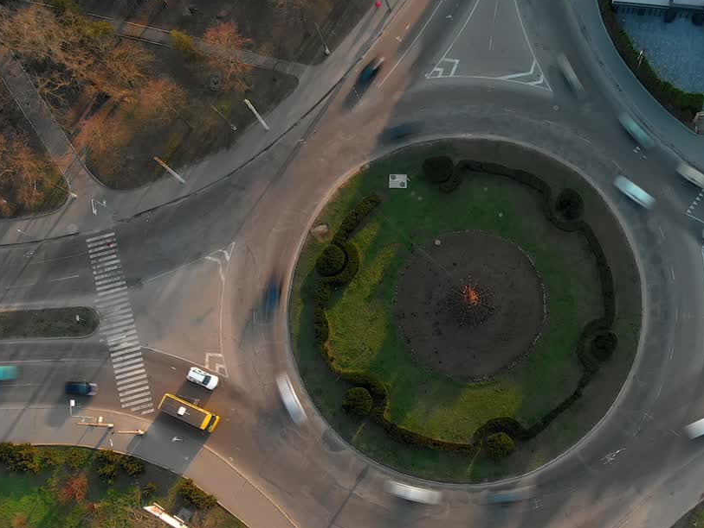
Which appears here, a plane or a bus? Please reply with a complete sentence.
The image shows a bus.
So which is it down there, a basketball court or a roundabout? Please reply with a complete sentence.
The image shows a roundabout.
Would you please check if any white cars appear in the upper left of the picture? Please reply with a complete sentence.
No, no white car can be made out in the upper left of the picture.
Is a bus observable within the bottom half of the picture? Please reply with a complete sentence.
Yes, a bus appears within the bottom half of the picture.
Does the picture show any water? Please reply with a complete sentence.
No, there's no water in this view.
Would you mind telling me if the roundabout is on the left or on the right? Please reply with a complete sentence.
You can find the roundabout on the right side of the picture.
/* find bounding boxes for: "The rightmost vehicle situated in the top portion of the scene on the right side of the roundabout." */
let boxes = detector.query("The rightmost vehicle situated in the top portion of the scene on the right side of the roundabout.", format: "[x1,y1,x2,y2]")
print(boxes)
[678,163,704,189]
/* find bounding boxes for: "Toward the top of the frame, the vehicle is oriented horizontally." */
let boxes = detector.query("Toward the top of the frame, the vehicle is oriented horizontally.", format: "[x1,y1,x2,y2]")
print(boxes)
[383,121,417,140]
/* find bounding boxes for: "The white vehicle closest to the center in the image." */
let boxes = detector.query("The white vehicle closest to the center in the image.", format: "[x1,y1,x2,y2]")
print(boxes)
[275,377,306,422]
